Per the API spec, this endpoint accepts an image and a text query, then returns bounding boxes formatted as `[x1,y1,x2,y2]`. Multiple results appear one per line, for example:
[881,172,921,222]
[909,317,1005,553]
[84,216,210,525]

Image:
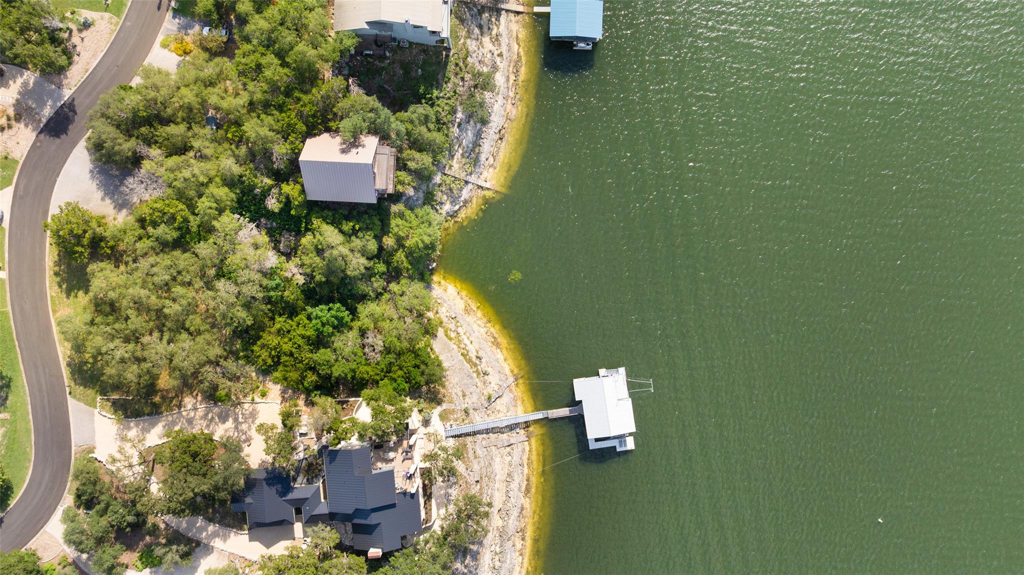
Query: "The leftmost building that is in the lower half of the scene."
[231,468,329,527]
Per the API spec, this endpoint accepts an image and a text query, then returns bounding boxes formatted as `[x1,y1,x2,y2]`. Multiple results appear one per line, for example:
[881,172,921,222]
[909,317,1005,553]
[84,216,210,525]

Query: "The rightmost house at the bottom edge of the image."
[323,444,422,560]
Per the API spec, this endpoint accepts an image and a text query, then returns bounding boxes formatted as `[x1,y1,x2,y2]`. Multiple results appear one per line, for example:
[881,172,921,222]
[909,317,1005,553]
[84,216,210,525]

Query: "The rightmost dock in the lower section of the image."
[573,367,653,451]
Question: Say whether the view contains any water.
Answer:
Yes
